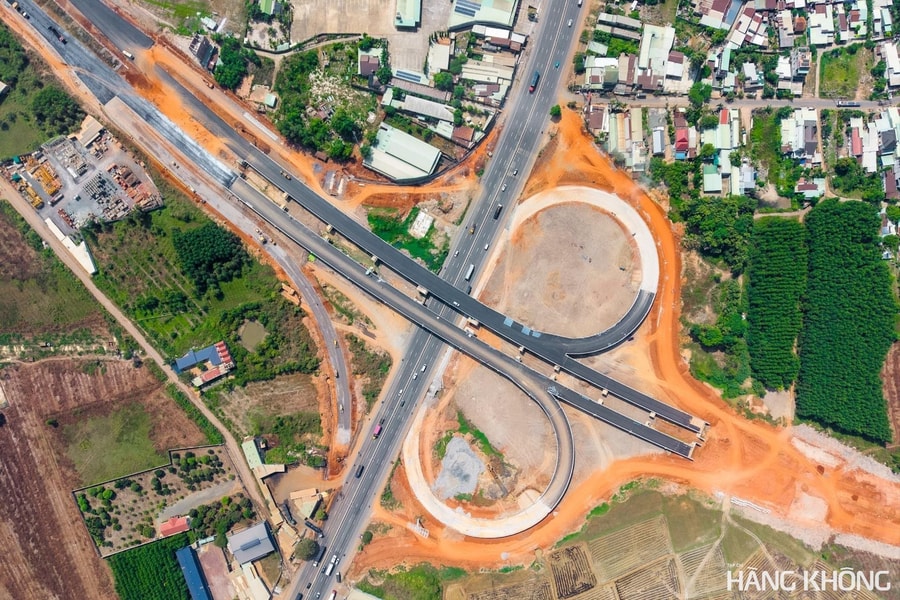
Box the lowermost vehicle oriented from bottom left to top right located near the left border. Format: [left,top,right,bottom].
[45,192,65,206]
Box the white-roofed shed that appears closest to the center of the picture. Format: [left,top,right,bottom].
[409,212,433,239]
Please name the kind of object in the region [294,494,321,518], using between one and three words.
house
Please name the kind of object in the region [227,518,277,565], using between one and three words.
building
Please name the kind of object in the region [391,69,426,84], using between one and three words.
shed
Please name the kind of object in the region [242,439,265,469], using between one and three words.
house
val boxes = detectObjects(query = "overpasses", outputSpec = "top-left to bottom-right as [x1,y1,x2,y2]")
[228,173,702,464]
